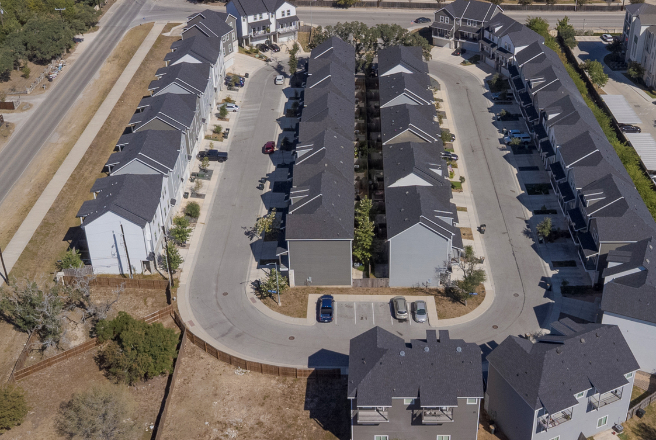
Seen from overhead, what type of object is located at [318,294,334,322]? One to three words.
vehicle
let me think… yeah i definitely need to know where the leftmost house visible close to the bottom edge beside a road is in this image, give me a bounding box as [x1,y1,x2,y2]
[344,324,482,440]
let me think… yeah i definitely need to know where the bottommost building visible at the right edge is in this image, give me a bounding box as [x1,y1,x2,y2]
[480,317,641,440]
